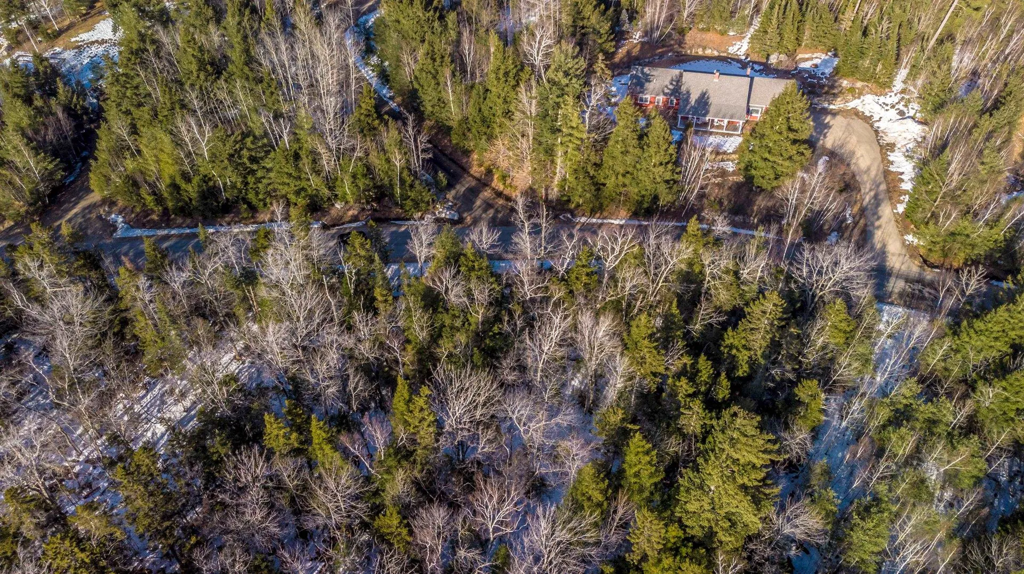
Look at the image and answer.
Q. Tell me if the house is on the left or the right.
right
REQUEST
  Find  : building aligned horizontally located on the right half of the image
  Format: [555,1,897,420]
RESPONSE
[628,61,795,135]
